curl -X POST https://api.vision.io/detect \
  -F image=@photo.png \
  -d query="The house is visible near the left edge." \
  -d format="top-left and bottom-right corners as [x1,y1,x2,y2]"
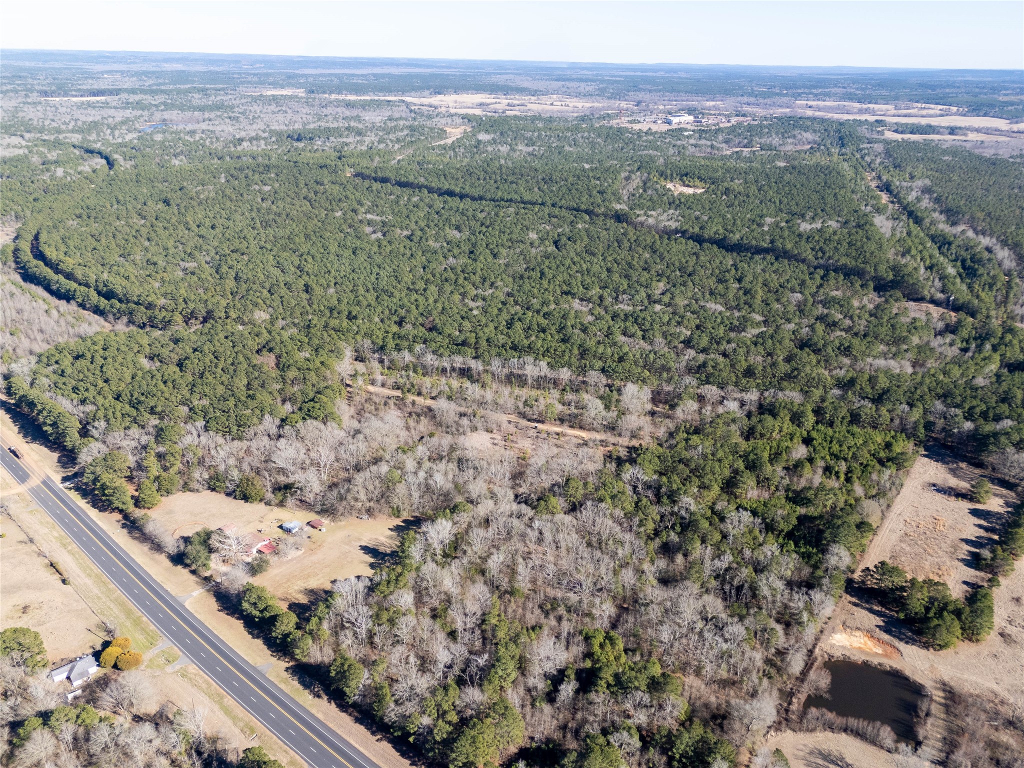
[49,655,101,687]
